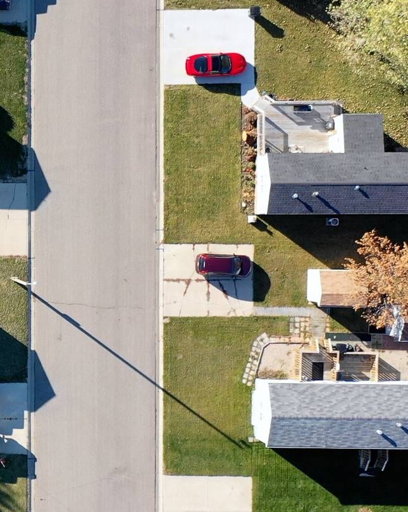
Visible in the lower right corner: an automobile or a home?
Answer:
home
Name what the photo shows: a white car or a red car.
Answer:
red car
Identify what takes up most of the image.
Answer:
paved ground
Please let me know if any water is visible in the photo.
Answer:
No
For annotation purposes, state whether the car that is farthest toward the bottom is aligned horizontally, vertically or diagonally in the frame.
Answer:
horizontally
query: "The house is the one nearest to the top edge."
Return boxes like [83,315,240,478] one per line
[253,115,408,216]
